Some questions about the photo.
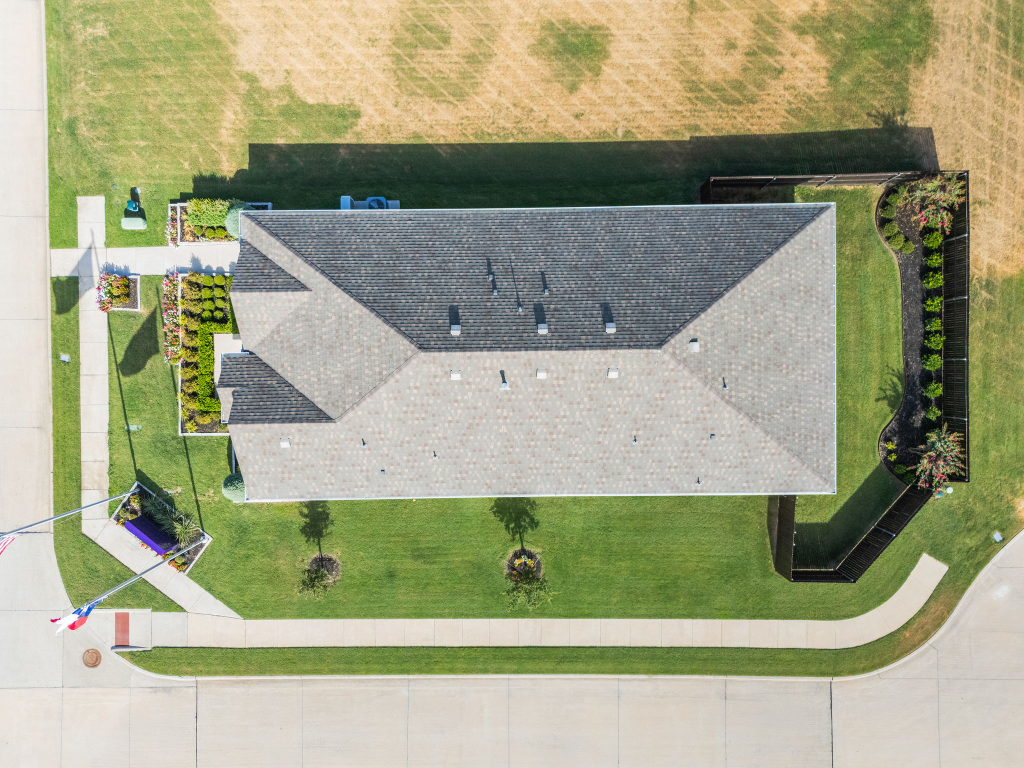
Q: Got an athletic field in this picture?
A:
No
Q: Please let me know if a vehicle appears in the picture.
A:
No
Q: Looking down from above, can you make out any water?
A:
No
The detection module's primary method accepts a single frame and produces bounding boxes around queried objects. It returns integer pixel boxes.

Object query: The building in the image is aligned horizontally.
[215,203,835,501]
